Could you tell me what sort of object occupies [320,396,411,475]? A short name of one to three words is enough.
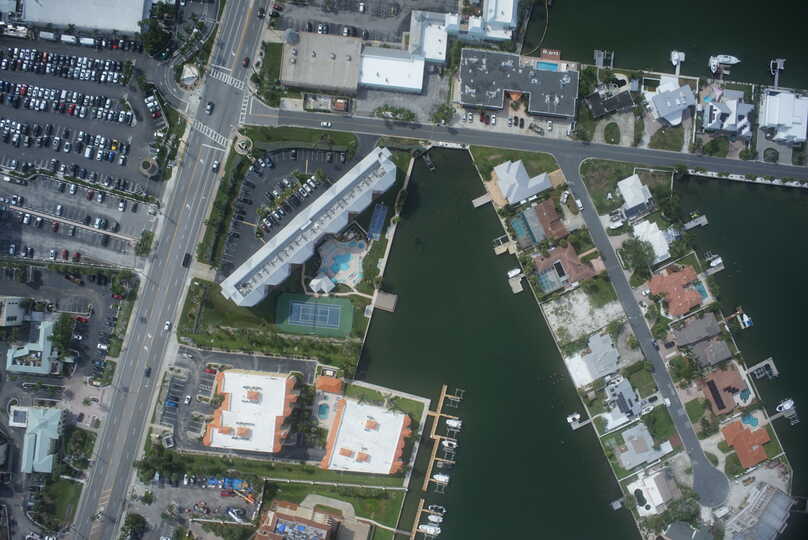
building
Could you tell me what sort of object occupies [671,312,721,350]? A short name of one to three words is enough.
house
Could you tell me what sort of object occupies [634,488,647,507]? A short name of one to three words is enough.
swimming pool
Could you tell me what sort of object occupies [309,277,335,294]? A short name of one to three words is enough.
gazebo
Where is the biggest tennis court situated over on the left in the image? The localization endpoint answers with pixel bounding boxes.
[275,293,353,336]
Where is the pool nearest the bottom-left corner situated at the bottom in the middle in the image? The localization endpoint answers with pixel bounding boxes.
[317,403,330,420]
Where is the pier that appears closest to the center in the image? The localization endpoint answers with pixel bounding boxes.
[374,292,398,312]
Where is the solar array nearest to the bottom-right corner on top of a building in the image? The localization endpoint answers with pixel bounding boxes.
[706,379,739,409]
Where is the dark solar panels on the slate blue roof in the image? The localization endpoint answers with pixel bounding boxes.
[611,388,634,419]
